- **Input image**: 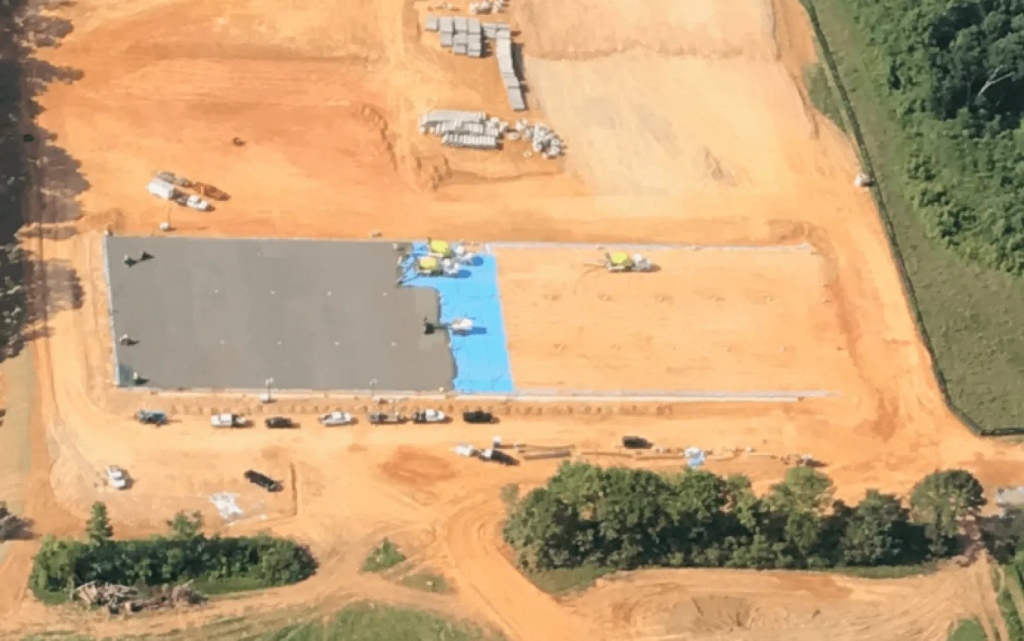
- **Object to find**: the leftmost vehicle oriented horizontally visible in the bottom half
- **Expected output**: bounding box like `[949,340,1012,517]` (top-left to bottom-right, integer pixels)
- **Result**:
[130,409,167,427]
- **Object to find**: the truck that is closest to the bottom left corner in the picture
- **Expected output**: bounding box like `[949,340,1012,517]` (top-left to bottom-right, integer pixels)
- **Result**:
[105,464,128,491]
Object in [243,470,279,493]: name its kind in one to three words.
truck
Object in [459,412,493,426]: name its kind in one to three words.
vehicle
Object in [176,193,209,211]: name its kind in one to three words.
vehicle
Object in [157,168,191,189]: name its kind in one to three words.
truck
